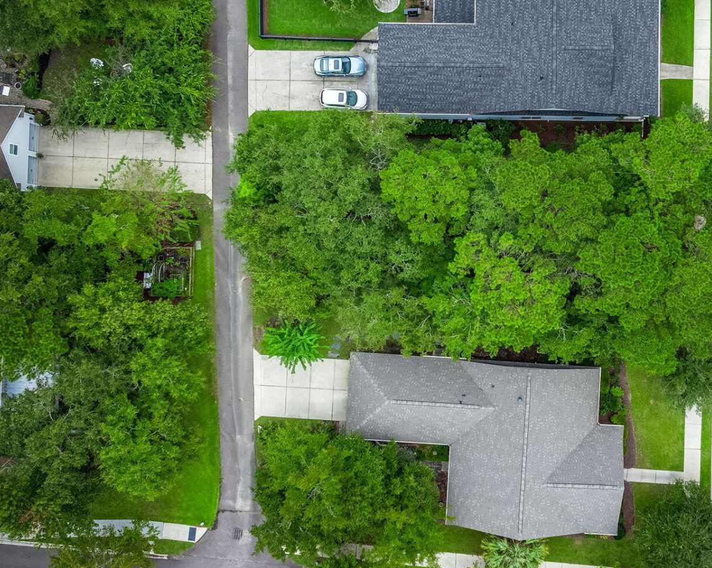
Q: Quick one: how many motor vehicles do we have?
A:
two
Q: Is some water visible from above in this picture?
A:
No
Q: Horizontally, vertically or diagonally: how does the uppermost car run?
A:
horizontally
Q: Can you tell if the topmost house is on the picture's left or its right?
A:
right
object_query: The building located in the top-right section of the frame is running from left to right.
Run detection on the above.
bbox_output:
[375,0,661,122]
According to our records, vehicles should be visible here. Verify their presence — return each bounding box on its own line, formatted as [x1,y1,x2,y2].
[319,86,368,110]
[313,54,366,77]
